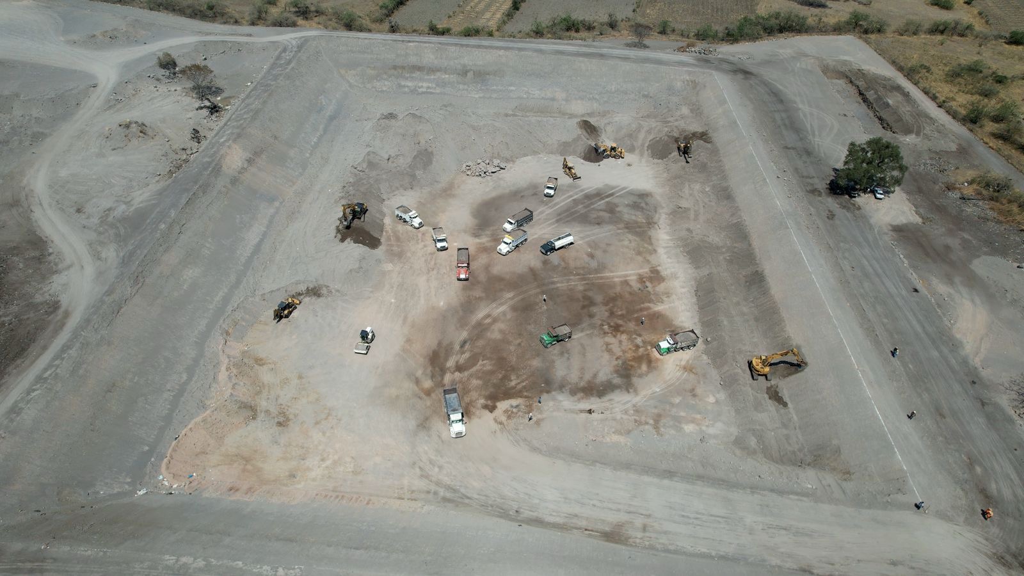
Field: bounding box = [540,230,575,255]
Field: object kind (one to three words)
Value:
truck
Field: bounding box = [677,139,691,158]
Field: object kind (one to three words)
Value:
work vehicle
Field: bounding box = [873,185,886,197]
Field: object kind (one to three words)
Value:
vehicle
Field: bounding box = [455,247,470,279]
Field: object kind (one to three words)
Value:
vehicle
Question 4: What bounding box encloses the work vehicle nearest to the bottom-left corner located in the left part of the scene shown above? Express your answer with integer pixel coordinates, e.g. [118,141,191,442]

[271,295,306,319]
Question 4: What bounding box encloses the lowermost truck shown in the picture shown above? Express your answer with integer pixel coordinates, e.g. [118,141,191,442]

[443,385,465,438]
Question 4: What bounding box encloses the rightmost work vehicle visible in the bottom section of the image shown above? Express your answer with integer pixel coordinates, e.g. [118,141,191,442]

[751,348,807,382]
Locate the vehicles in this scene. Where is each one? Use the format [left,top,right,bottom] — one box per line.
[564,155,581,180]
[352,332,376,355]
[336,204,370,225]
[677,139,691,158]
[502,206,535,232]
[443,385,465,438]
[540,230,575,255]
[431,225,448,250]
[544,175,559,196]
[271,295,306,319]
[656,325,702,355]
[393,201,423,227]
[497,226,528,254]
[598,143,627,158]
[455,247,470,279]
[538,319,574,347]
[873,185,886,197]
[751,348,807,382]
